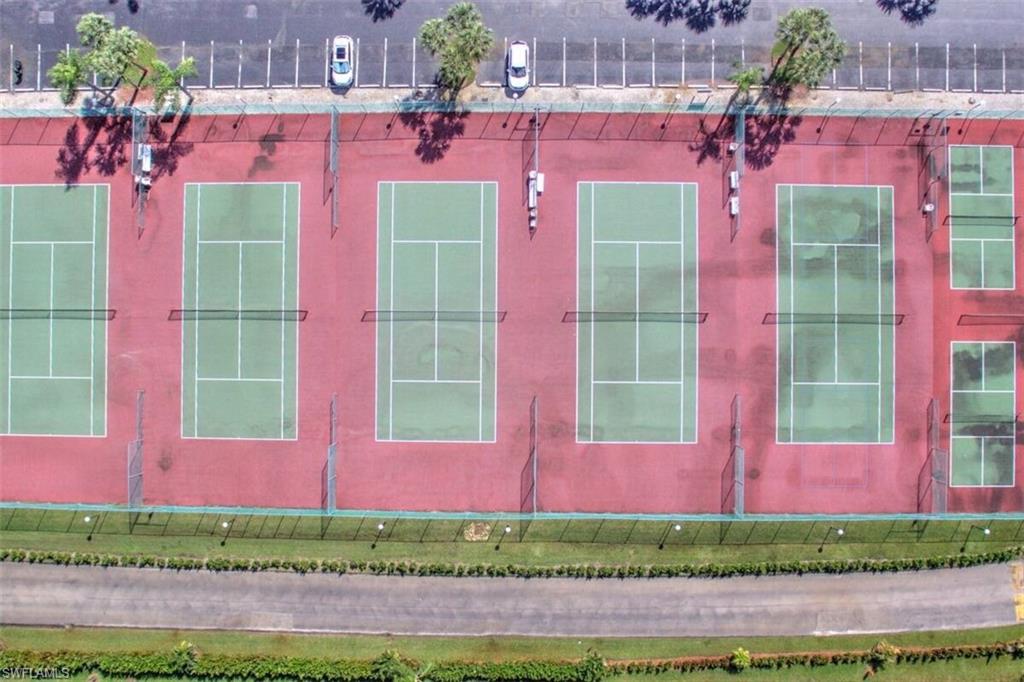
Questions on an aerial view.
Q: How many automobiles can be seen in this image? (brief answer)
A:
2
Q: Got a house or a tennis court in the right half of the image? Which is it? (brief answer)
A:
tennis court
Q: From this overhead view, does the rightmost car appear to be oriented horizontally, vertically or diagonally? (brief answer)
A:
vertically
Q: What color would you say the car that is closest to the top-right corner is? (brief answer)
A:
white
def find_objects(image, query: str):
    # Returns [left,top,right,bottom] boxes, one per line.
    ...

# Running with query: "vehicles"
[8,60,20,83]
[506,41,531,91]
[329,37,354,88]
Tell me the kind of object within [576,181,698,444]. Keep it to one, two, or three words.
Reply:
tennis court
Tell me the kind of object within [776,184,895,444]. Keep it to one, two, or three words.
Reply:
tennis court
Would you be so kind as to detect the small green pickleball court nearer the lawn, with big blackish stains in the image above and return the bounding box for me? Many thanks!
[951,341,1016,487]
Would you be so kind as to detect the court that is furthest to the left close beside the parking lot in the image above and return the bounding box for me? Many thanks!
[0,184,110,437]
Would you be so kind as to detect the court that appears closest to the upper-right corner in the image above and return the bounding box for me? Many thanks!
[949,145,1016,290]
